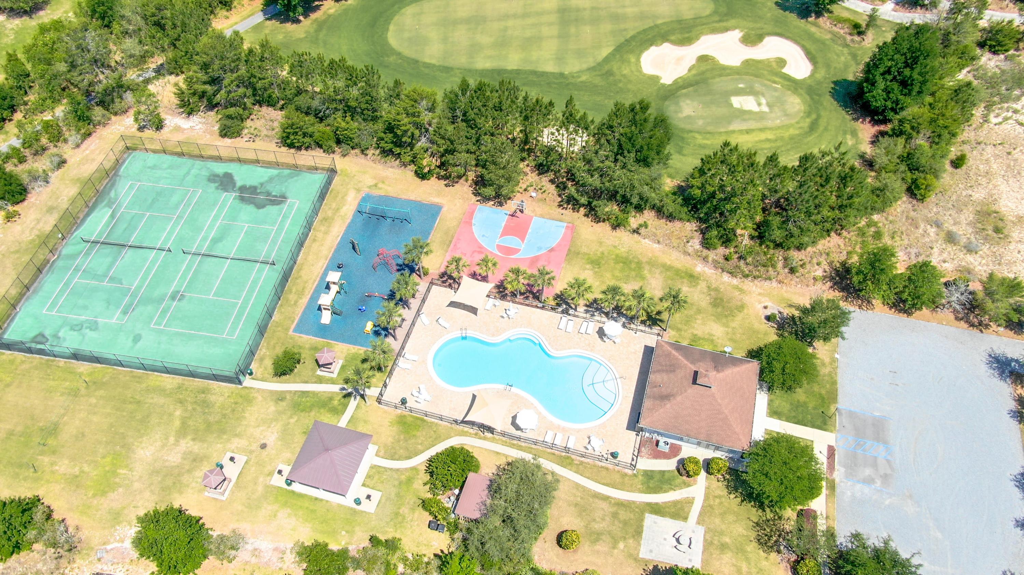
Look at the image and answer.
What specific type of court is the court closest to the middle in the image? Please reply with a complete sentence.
The court closest to the middle appears to be a basketball court.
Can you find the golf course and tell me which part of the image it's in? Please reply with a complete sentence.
You can find the golf course in the top area of the picture.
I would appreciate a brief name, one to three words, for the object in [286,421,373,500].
building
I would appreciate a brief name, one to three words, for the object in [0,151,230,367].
tennis court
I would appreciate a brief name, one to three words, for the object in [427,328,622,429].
swimming pool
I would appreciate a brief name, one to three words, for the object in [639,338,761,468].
building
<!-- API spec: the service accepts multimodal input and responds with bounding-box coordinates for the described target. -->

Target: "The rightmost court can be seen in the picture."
[440,204,575,295]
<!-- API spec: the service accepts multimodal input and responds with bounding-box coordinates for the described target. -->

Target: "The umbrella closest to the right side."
[603,321,623,338]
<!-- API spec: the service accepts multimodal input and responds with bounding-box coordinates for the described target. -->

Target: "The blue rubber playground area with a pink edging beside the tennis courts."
[290,192,444,348]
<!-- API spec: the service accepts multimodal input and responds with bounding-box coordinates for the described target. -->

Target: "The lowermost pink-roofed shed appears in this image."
[453,475,495,530]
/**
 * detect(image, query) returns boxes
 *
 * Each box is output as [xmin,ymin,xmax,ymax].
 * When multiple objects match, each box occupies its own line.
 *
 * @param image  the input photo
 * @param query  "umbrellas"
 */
[603,321,623,338]
[515,410,539,431]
